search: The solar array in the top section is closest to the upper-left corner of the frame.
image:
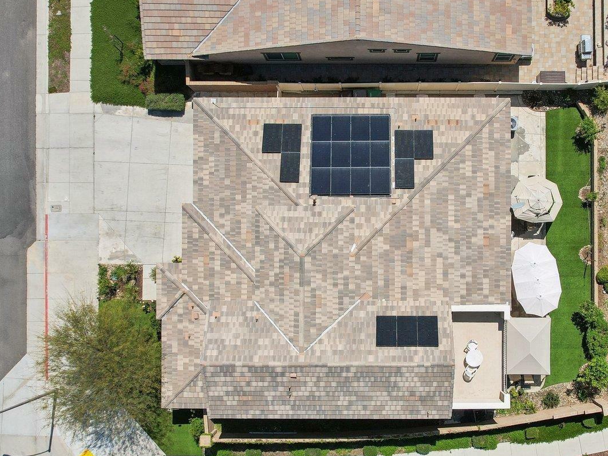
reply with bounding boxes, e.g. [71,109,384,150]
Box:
[261,123,301,181]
